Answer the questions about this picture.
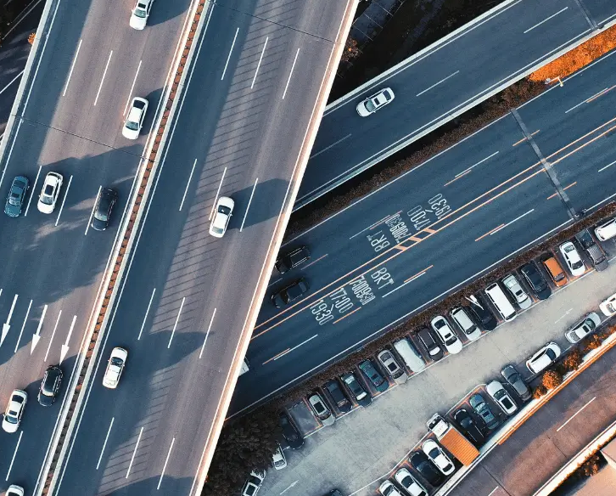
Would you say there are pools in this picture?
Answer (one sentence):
No, there appears to be no pool in this shot.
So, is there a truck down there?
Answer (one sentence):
Yes, a truck is visible in the scene.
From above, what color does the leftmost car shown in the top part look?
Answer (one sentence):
The color of the leftmost car shown in the top part is blue.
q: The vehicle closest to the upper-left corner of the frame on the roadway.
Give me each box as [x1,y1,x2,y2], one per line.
[130,0,153,30]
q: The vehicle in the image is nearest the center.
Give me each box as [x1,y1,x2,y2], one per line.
[274,244,312,273]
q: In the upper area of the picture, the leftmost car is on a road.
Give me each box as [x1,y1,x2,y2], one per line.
[5,175,30,217]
